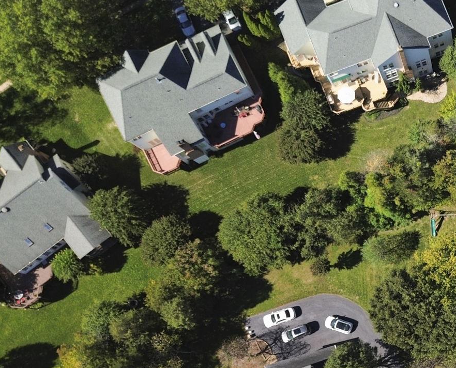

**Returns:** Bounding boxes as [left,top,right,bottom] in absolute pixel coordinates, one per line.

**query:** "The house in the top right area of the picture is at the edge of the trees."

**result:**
[274,0,454,120]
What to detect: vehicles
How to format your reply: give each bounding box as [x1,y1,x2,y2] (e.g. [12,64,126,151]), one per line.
[263,307,298,326]
[281,324,313,342]
[222,4,244,35]
[180,6,196,37]
[324,315,356,335]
